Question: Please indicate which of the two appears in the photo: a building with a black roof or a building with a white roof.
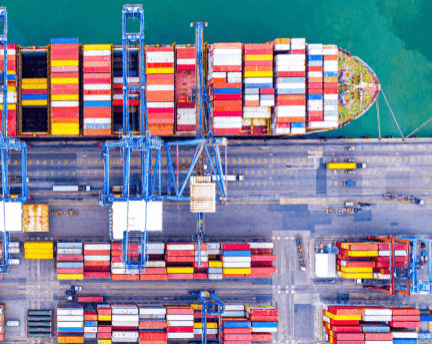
building with a white roof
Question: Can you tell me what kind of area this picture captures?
port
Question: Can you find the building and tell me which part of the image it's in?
bottom right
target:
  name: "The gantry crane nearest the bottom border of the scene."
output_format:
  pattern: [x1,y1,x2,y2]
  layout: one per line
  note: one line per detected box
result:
[188,291,232,344]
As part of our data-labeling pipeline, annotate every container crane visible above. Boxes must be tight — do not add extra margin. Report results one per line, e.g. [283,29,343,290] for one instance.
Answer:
[152,19,224,266]
[356,235,412,299]
[87,0,168,274]
[0,1,34,274]
[188,291,232,344]
[381,235,432,299]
